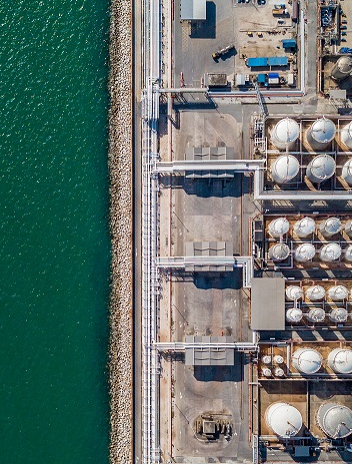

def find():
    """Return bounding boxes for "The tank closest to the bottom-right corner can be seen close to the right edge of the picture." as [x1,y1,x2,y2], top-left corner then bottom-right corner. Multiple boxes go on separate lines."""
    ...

[317,398,352,438]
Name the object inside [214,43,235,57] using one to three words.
vehicle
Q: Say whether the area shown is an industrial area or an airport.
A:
industrial area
